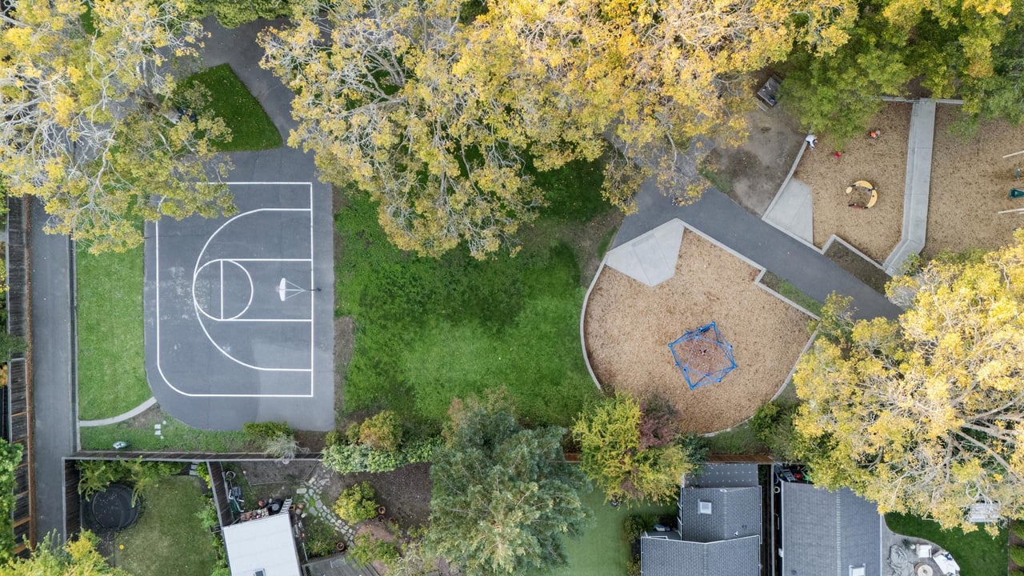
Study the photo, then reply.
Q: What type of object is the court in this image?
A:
basketball court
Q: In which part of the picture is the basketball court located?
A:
left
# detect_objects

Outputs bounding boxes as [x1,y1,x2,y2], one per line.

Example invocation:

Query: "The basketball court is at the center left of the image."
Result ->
[145,149,334,431]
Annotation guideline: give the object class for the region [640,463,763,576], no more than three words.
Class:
house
